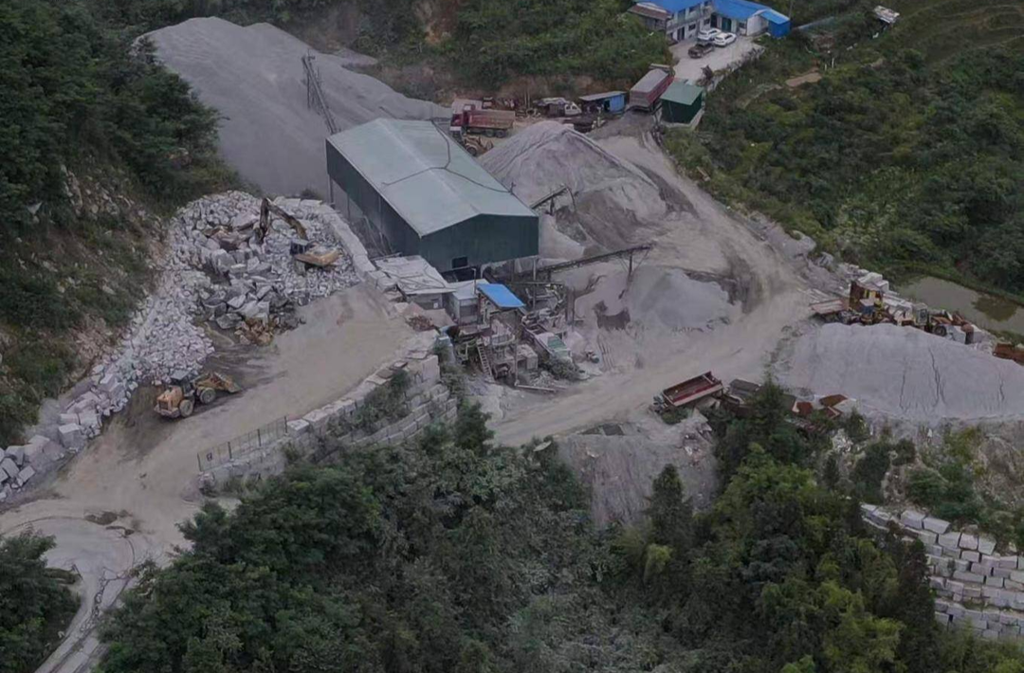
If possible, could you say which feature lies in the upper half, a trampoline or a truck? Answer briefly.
truck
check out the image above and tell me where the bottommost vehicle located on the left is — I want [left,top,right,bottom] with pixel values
[162,362,248,415]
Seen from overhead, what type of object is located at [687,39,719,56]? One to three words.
vehicle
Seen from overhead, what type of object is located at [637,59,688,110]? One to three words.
truck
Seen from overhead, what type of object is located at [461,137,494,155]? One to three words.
work vehicle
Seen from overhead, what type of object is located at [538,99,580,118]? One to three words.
vehicle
